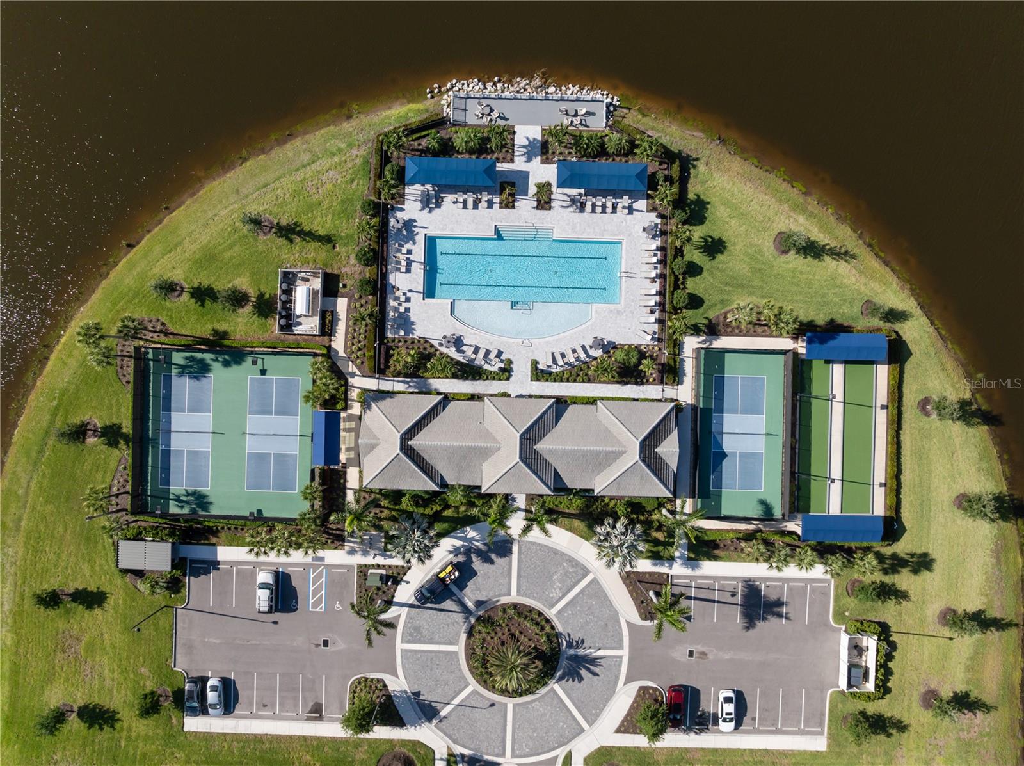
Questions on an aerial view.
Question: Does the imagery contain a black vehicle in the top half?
No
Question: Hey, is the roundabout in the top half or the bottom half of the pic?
bottom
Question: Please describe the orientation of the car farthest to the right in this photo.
up and down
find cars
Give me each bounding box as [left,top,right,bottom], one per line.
[717,689,737,732]
[203,677,224,717]
[180,675,202,717]
[666,686,686,727]
[256,569,278,614]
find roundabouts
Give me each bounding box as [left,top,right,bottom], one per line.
[390,531,635,766]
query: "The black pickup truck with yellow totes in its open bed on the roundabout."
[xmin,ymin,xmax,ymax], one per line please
[416,558,464,603]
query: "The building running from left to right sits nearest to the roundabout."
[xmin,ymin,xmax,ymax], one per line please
[358,392,680,498]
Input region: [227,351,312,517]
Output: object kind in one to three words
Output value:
sports court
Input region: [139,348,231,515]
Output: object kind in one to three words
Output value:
sports court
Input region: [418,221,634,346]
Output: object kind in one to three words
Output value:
swimming pool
